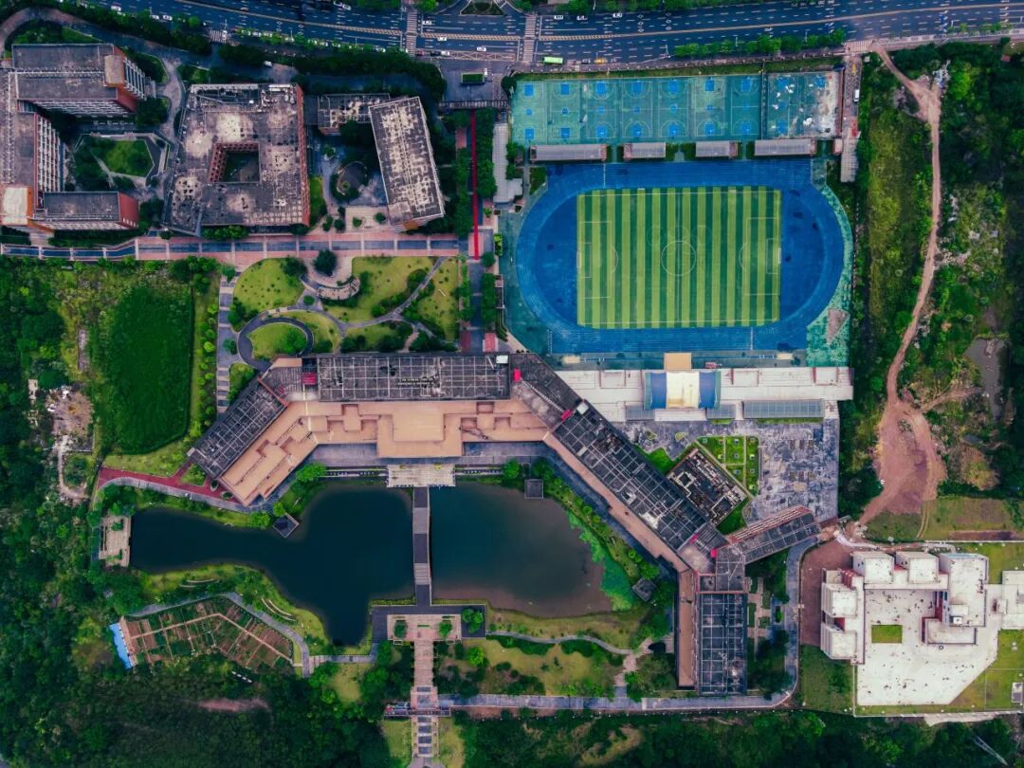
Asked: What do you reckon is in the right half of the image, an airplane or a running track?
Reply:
running track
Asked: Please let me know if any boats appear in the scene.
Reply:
No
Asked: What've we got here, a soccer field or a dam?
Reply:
soccer field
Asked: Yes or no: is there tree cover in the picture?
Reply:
Yes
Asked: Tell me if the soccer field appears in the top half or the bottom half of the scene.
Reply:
top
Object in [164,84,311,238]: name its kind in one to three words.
building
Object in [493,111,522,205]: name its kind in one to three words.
building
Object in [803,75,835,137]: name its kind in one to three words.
basketball court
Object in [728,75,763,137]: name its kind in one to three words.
basketball court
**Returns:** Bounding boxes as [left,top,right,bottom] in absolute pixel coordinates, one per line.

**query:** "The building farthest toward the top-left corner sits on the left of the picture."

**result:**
[0,43,154,236]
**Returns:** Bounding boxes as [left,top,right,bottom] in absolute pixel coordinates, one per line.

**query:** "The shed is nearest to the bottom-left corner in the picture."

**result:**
[111,623,132,669]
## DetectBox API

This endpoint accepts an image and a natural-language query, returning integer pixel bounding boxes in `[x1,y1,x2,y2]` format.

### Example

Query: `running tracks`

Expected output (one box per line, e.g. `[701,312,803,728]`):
[517,159,843,354]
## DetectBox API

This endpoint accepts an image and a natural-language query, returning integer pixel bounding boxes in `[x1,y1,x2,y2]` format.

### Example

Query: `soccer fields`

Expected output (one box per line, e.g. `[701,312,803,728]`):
[575,186,781,328]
